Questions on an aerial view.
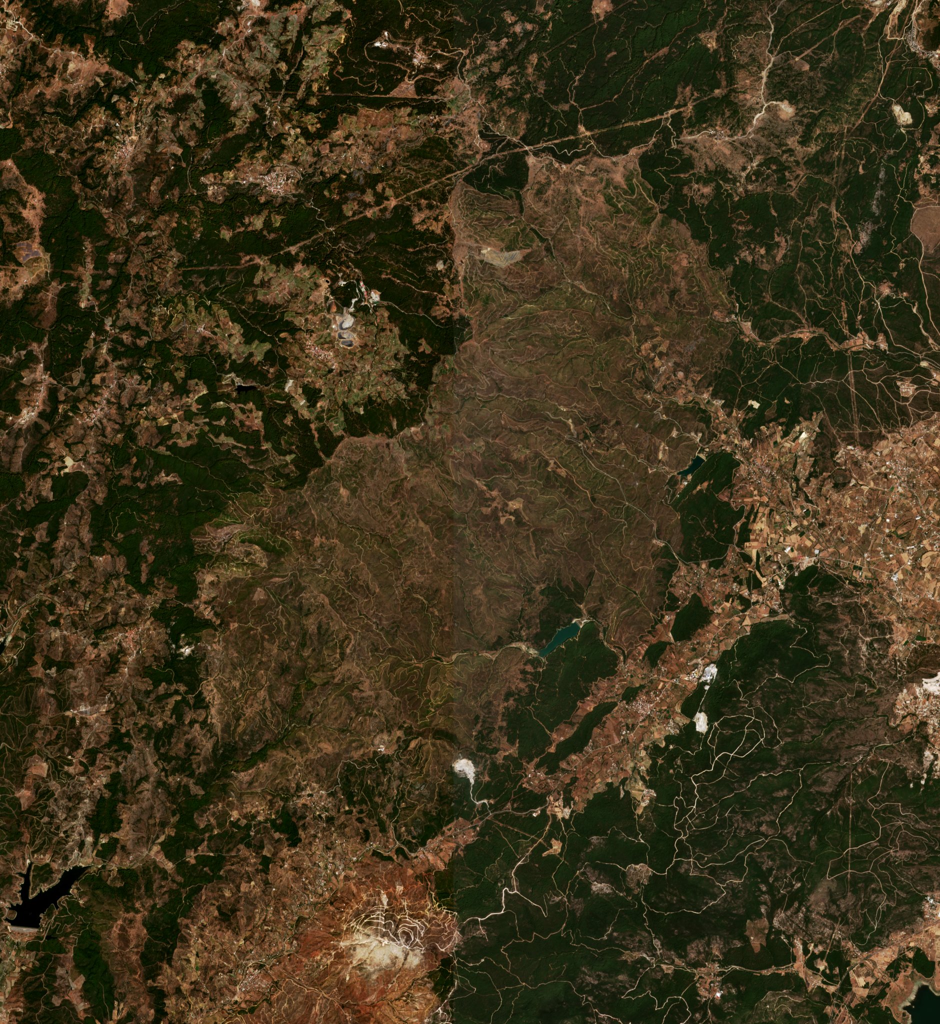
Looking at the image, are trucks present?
No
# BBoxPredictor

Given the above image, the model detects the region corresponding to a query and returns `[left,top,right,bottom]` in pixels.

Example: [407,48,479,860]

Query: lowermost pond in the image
[6,863,93,928]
